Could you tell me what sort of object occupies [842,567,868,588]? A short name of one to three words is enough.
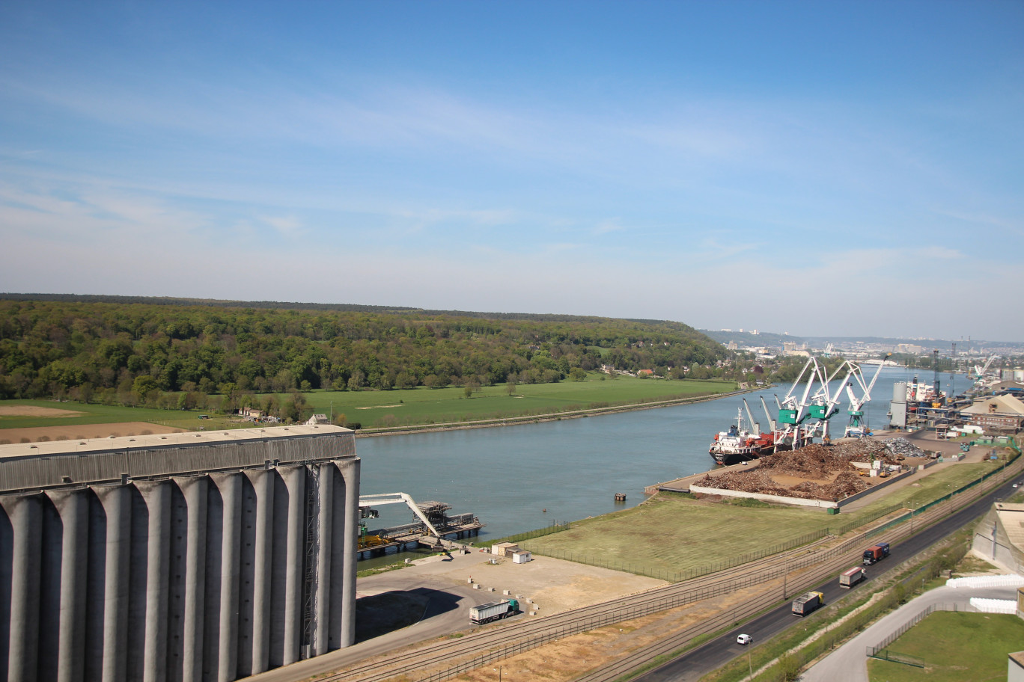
truck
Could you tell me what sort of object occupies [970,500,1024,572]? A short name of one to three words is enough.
hangar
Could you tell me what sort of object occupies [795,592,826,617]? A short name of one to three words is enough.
truck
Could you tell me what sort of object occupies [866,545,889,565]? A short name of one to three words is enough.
vehicle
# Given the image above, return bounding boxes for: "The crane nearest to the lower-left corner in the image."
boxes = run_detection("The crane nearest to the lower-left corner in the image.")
[357,491,443,555]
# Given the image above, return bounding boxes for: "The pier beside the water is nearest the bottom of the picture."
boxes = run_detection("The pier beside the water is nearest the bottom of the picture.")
[357,523,489,564]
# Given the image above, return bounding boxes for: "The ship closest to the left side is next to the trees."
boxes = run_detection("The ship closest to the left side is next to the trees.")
[710,395,808,466]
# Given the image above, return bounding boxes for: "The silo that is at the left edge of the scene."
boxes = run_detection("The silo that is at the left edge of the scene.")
[0,421,360,682]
